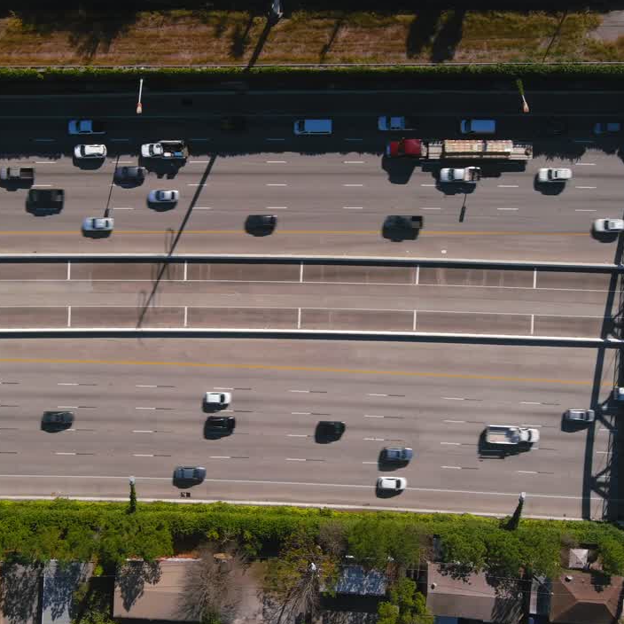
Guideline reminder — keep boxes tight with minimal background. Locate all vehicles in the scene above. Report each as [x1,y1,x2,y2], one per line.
[381,217,423,232]
[383,448,412,462]
[317,421,346,434]
[206,392,232,406]
[294,119,333,134]
[377,477,406,491]
[245,216,277,231]
[535,167,572,182]
[142,142,187,158]
[459,119,497,134]
[564,408,594,423]
[175,467,206,481]
[207,417,236,432]
[43,412,74,424]
[147,190,180,203]
[115,167,146,182]
[439,167,482,182]
[377,115,417,132]
[75,144,108,158]
[83,217,115,232]
[592,122,621,135]
[29,191,65,206]
[385,139,534,160]
[69,119,106,134]
[591,217,624,233]
[487,427,540,444]
[0,165,35,181]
